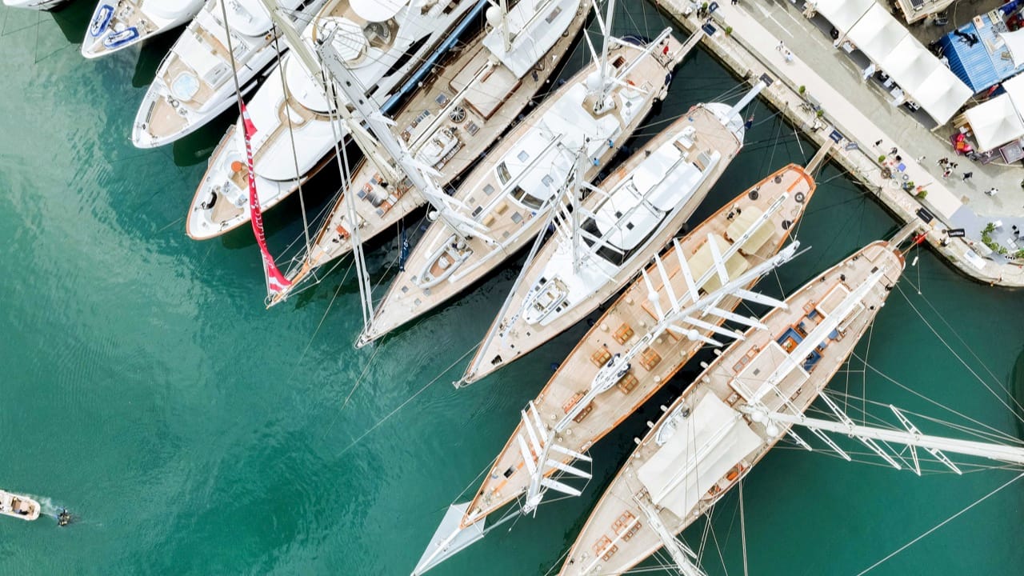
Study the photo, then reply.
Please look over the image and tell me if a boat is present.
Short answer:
Yes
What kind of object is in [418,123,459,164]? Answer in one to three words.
boat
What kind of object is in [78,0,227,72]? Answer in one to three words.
boat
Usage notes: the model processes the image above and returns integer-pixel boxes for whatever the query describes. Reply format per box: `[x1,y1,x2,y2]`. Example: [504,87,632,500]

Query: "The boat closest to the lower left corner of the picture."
[0,488,43,523]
